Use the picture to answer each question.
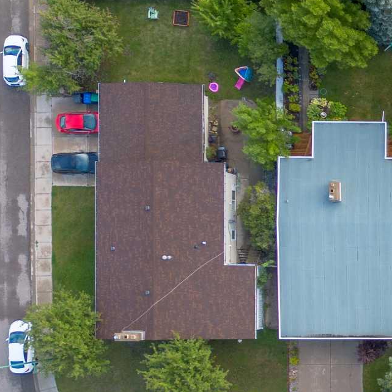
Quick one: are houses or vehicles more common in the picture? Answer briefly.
vehicles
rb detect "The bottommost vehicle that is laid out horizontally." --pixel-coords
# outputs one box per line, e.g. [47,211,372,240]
[43,148,98,174]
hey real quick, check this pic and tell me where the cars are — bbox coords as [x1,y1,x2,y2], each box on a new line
[43,148,98,174]
[0,320,31,375]
[48,108,98,132]
[0,35,27,86]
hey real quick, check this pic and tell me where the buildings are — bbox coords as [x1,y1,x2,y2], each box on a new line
[96,81,266,340]
[276,111,392,340]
